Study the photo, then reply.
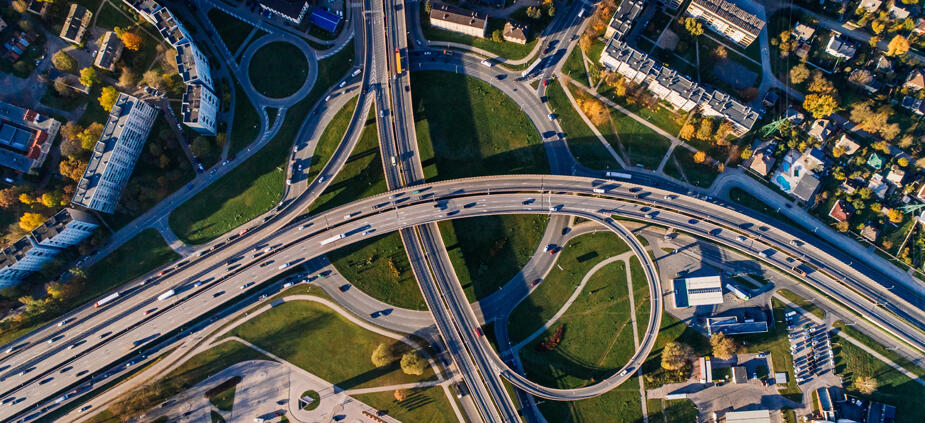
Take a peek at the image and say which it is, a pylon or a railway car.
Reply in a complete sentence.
Visible in the photo is a pylon.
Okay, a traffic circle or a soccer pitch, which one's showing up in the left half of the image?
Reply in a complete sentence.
The one visible in the left half of the image is a traffic circle.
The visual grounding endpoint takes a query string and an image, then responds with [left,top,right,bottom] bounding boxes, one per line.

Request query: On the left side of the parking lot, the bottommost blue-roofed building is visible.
[704,315,769,335]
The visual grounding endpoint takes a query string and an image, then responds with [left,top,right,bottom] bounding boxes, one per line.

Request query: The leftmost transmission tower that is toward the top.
[754,117,790,146]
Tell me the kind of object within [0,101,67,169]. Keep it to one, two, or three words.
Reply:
building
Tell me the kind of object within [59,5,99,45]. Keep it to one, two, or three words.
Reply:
house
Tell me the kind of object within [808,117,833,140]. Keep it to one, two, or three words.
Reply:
house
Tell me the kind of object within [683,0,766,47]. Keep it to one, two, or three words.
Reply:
building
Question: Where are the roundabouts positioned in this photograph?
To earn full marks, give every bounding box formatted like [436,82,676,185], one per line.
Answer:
[240,33,317,107]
